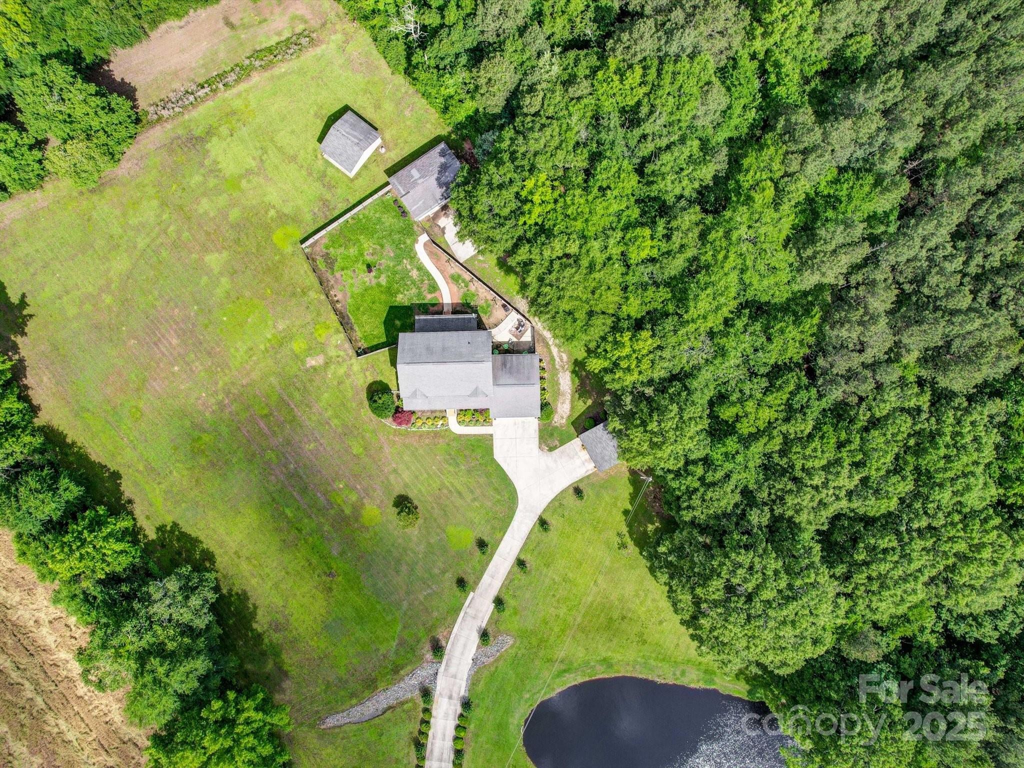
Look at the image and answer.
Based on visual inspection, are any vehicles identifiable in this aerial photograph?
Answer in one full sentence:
No, the picture doesn't show any vehicle.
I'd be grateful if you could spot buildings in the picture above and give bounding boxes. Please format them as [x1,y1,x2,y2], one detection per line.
[579,413,636,474]
[320,112,384,179]
[390,144,467,222]
[396,312,541,419]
